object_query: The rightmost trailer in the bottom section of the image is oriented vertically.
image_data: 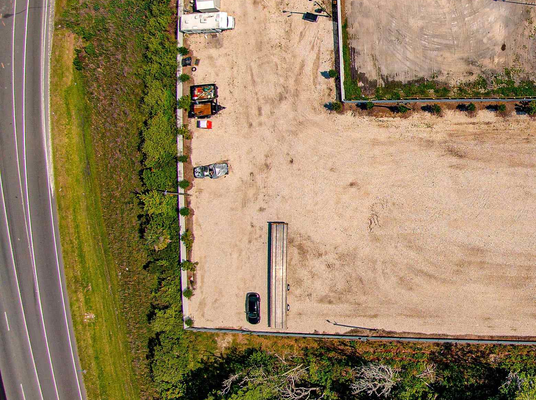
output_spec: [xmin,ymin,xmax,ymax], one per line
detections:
[271,223,291,330]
